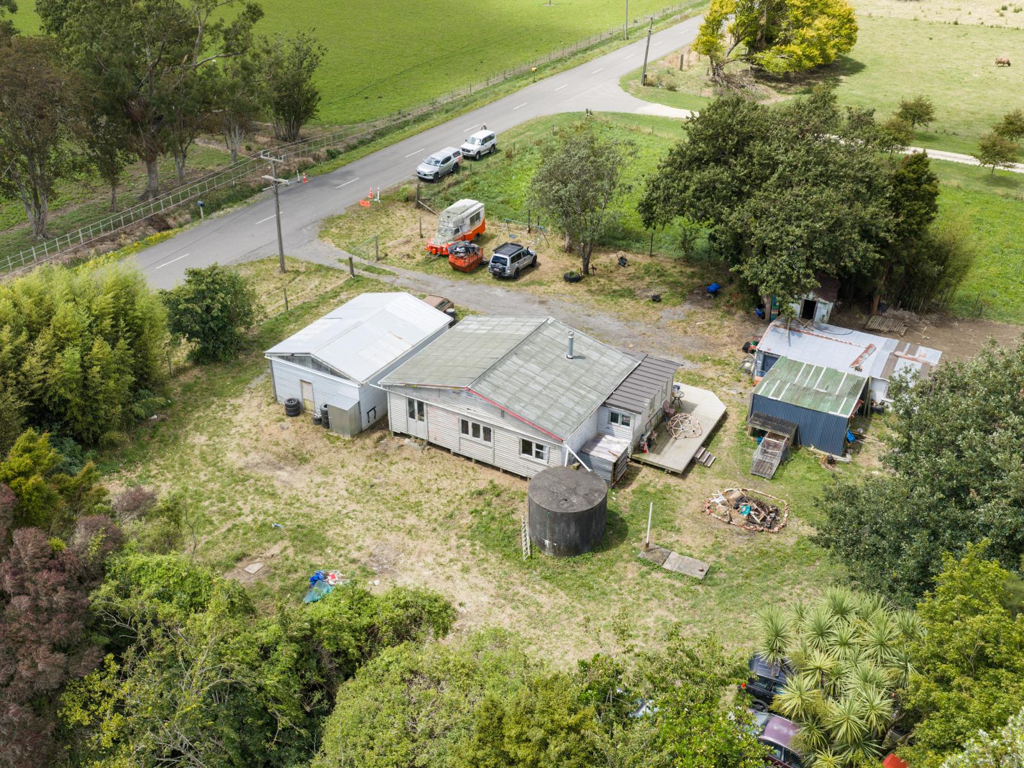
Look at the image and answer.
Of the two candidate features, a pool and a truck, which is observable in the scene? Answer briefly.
truck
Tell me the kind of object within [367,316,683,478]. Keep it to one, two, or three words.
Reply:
house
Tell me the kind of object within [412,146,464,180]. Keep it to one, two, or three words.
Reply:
truck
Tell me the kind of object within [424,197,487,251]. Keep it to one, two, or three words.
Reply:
truck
